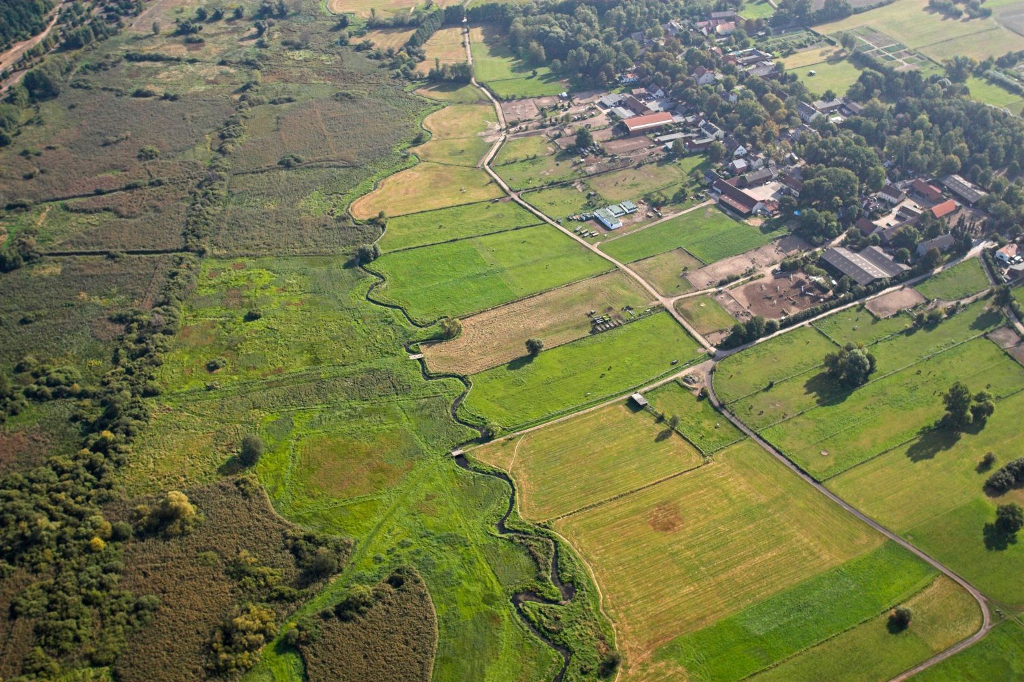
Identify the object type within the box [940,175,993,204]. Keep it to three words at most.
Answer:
shed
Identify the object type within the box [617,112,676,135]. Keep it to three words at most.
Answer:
building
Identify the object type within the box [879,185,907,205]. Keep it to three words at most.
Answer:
house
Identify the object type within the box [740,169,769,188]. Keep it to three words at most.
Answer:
barn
